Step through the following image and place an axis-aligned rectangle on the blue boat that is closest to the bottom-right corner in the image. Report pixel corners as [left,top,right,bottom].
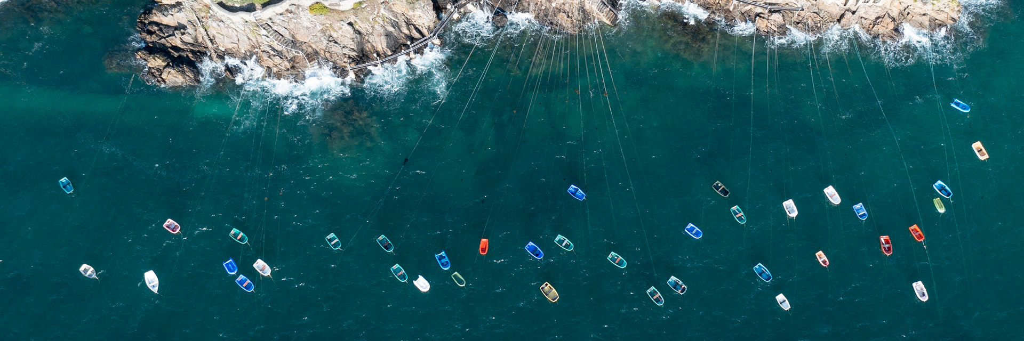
[934,180,953,200]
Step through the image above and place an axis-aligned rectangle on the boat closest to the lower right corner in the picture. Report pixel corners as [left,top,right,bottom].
[913,281,929,303]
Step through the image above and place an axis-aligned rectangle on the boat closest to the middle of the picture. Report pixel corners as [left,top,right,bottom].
[568,185,585,200]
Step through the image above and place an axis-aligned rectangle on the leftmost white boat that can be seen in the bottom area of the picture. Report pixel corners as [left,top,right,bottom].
[79,263,100,280]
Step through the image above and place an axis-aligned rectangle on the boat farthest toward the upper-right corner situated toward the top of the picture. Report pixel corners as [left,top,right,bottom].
[951,99,970,113]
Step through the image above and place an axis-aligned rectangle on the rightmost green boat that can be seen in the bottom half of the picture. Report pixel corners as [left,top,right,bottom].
[932,197,944,215]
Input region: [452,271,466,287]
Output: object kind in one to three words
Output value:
boat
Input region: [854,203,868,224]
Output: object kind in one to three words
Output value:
boat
